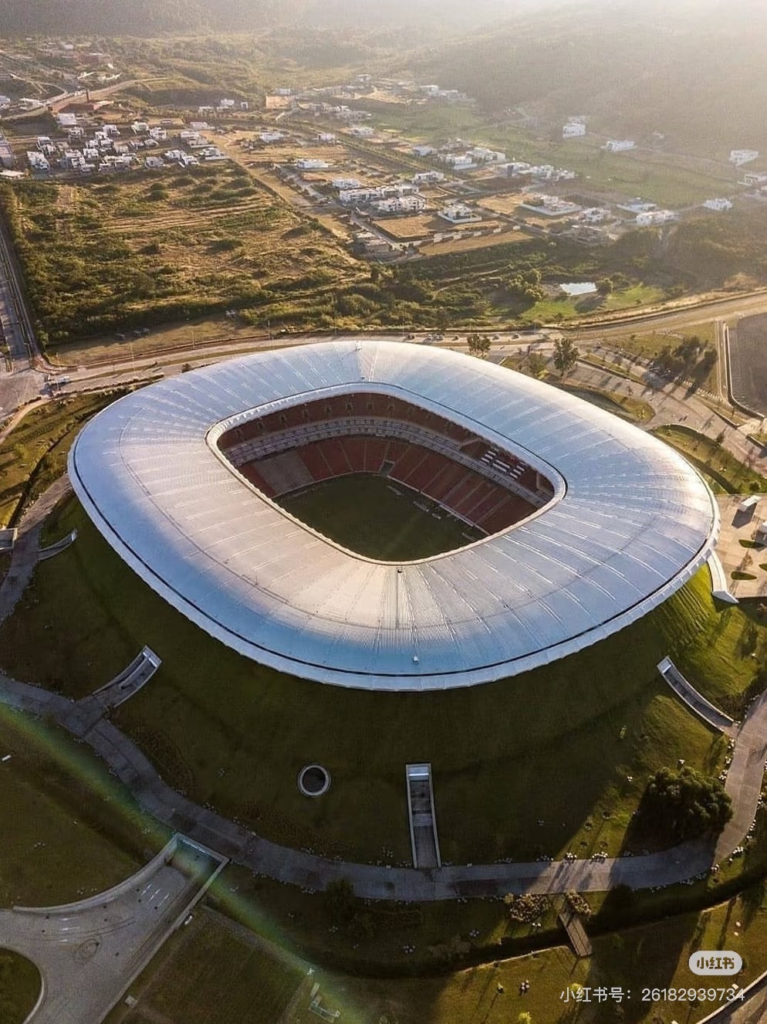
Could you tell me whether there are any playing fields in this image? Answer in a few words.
Yes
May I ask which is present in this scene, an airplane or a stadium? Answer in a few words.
stadium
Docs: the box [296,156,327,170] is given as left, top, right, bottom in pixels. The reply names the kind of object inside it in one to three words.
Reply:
house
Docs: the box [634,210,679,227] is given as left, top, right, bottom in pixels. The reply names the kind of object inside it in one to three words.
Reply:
house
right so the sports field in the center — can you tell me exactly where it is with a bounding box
[272,472,489,560]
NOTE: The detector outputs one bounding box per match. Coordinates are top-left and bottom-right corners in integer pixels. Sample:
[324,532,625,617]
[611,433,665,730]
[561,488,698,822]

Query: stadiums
[64,338,729,693]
